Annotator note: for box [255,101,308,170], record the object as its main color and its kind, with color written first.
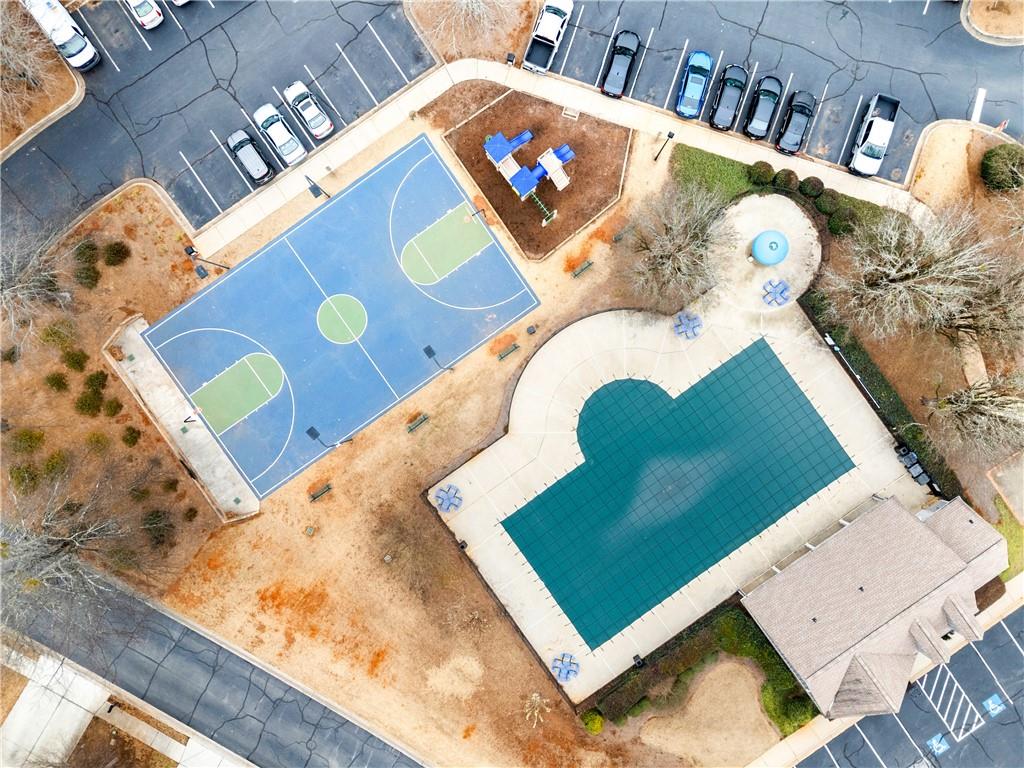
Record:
white car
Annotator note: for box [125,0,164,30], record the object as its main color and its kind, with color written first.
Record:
white car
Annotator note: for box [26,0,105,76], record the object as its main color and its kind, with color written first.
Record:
white van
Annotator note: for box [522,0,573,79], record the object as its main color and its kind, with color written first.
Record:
white truck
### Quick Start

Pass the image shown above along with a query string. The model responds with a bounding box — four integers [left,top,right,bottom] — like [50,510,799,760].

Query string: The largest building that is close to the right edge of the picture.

[735,492,1008,720]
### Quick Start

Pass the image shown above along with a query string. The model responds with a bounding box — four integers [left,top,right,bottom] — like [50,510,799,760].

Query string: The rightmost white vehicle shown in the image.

[850,92,903,180]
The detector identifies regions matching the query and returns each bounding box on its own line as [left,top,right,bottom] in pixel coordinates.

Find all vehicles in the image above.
[599,30,641,103]
[773,91,816,158]
[227,128,276,189]
[26,0,105,76]
[255,101,308,170]
[673,49,712,124]
[850,92,903,180]
[522,0,573,79]
[125,0,164,30]
[741,76,781,144]
[705,63,748,135]
[285,80,335,144]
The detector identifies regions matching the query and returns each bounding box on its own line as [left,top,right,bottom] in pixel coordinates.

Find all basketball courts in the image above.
[139,132,545,505]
